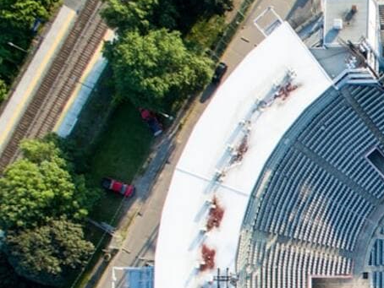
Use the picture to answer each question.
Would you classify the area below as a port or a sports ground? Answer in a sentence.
This looks like a sports ground.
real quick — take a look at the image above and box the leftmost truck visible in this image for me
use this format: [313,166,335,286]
[100,175,132,198]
